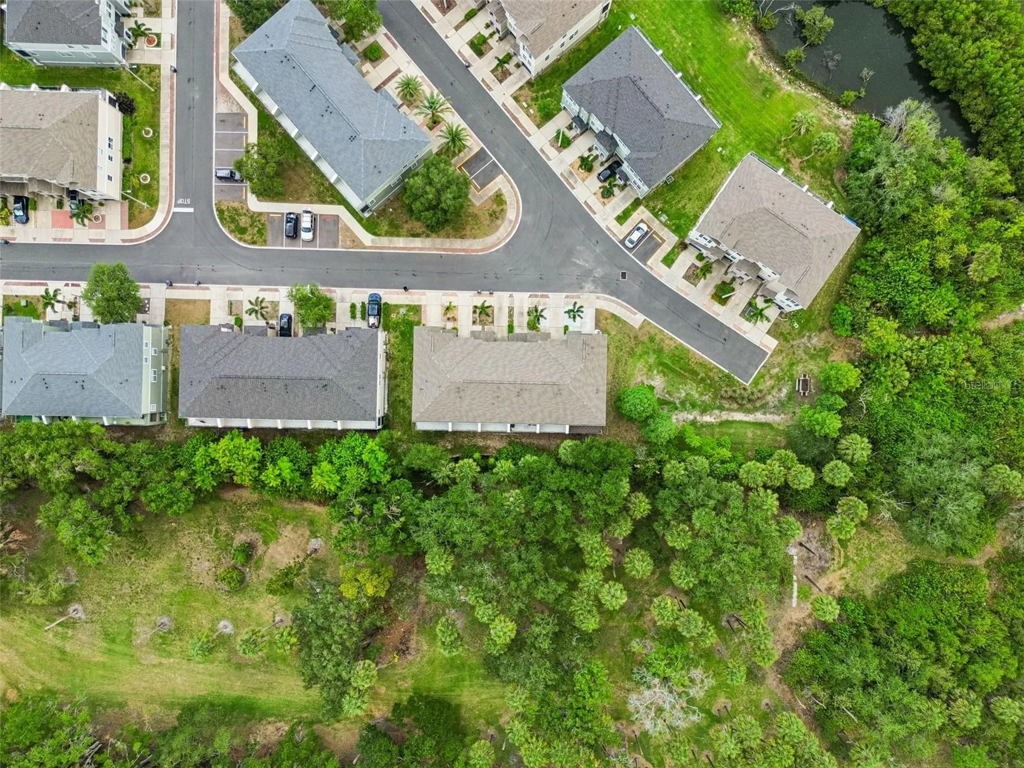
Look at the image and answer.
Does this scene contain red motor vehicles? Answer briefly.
No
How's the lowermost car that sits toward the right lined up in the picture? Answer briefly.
at an angle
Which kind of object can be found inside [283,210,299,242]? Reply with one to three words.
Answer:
car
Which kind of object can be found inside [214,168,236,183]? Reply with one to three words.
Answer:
car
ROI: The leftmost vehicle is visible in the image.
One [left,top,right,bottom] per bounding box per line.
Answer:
[14,199,31,225]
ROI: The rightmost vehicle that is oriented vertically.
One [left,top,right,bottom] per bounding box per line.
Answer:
[366,293,382,330]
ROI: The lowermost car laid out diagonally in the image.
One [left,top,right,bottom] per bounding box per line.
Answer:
[623,222,650,250]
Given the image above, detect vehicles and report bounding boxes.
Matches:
[278,308,294,337]
[14,199,31,225]
[366,293,382,330]
[623,222,650,250]
[283,210,299,242]
[594,157,620,183]
[299,207,316,242]
[214,168,236,183]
